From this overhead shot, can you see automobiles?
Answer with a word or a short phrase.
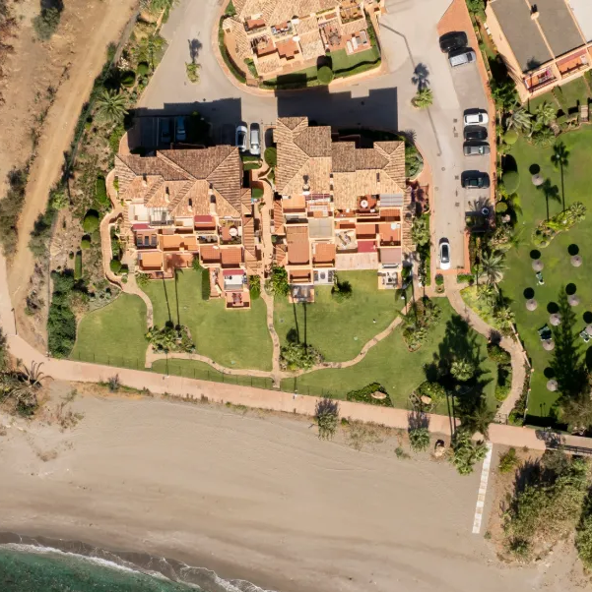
Yes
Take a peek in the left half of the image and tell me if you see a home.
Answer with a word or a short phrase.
Yes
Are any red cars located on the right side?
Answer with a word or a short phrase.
No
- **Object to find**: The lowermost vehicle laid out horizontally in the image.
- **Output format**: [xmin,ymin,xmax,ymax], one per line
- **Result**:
[460,172,490,186]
